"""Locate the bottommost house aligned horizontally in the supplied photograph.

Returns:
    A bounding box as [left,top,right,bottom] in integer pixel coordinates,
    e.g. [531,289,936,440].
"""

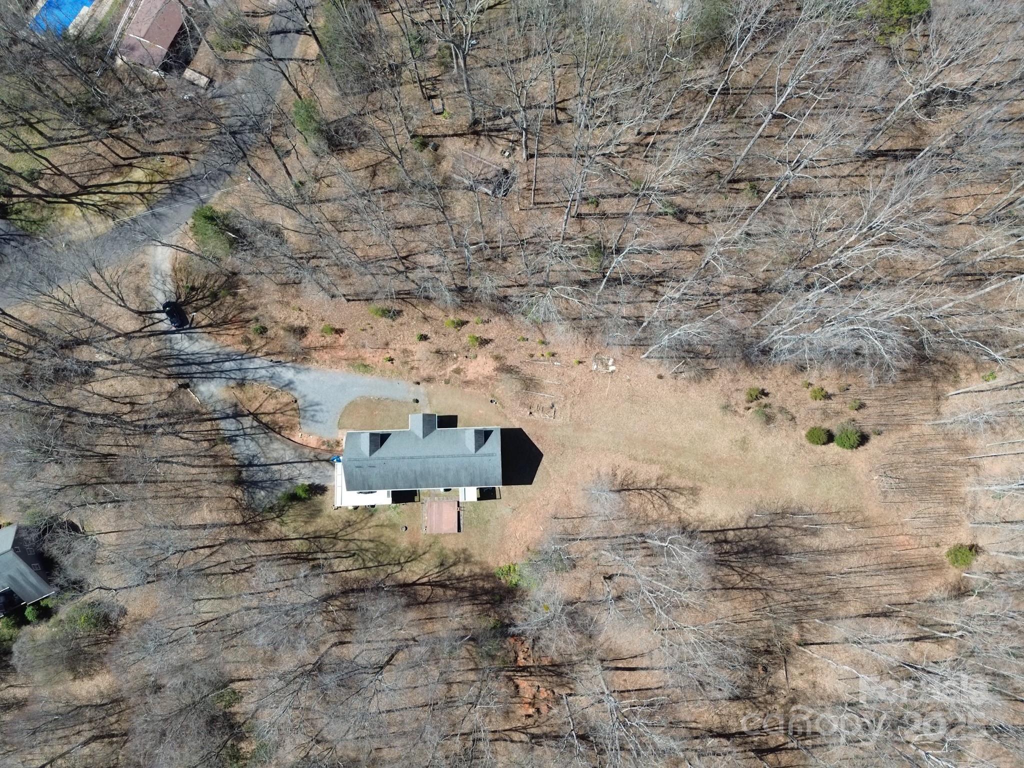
[343,413,503,492]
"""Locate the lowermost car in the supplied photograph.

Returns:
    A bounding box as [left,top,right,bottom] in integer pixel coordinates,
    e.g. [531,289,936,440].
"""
[161,299,180,327]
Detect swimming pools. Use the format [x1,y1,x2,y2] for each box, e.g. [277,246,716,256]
[23,0,107,48]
